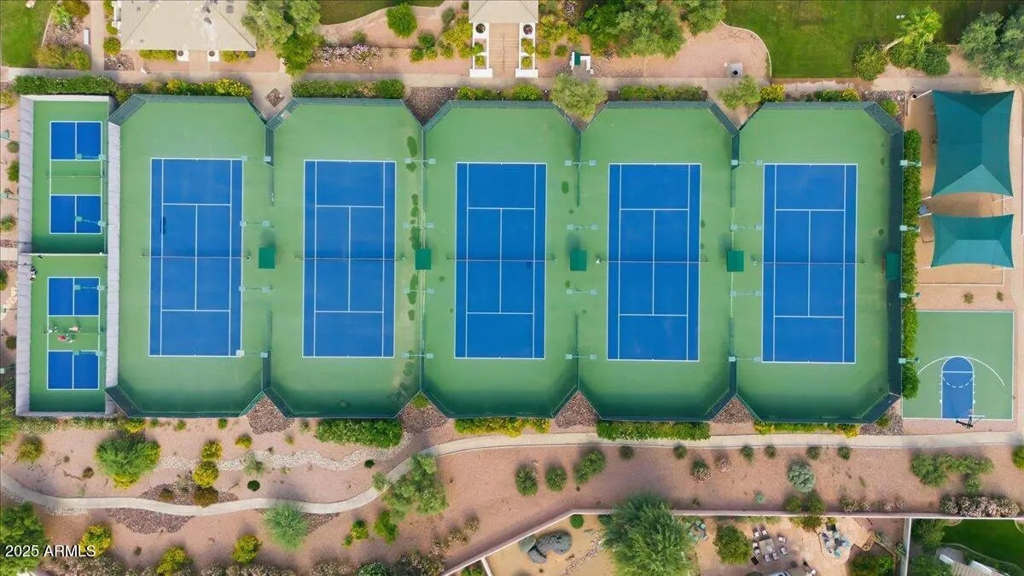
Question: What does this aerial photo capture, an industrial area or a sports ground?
sports ground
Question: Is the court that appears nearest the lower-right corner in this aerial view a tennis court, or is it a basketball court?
basketball court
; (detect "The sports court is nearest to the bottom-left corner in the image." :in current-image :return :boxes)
[29,255,107,412]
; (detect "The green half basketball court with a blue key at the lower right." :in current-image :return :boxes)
[903,311,1014,420]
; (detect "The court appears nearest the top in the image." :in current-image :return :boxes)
[31,101,109,254]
